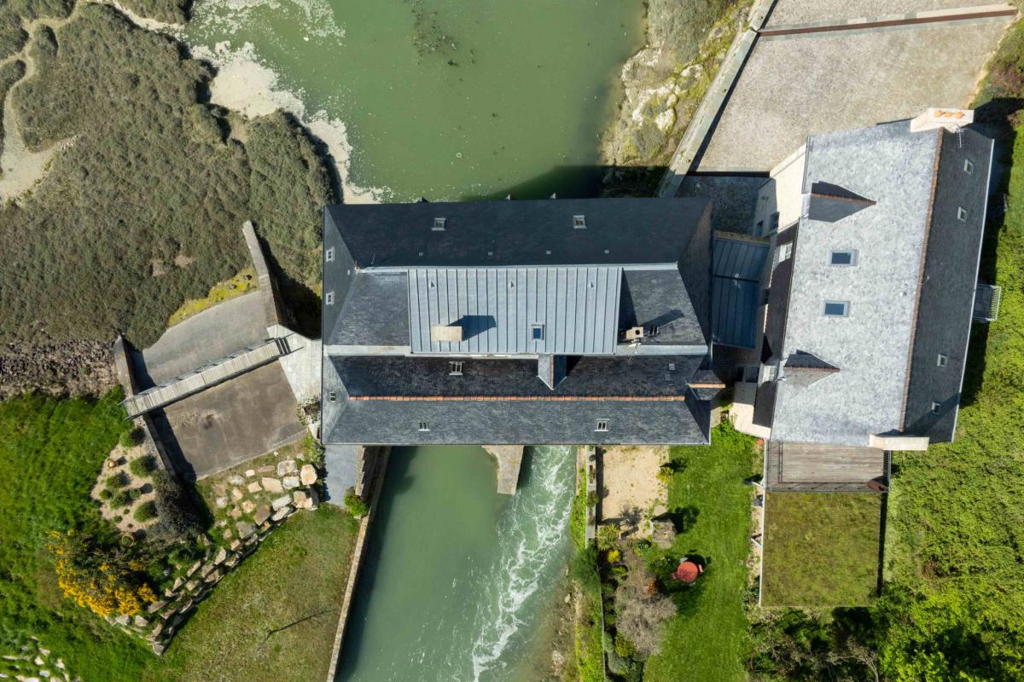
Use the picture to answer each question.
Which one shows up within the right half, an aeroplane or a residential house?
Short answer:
residential house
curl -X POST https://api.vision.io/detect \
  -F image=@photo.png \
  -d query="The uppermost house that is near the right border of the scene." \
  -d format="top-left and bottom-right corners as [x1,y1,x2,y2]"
[717,107,1004,454]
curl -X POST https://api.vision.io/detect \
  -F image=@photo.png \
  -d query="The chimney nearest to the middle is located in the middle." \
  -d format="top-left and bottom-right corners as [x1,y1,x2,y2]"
[431,326,463,340]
